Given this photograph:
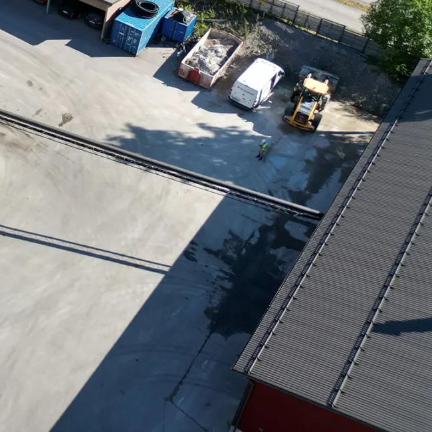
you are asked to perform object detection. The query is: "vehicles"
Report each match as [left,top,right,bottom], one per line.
[285,63,344,127]
[61,0,92,20]
[83,7,106,30]
[30,0,55,7]
[234,58,285,107]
